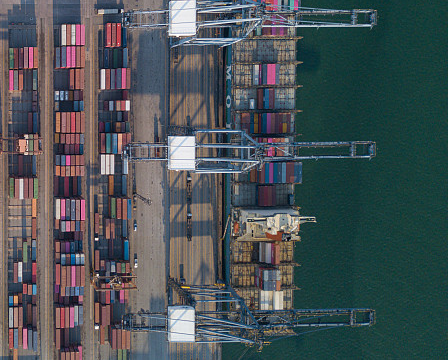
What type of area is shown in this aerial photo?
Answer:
port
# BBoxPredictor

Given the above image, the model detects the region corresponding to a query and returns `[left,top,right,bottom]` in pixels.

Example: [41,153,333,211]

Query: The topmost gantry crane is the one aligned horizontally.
[124,0,381,59]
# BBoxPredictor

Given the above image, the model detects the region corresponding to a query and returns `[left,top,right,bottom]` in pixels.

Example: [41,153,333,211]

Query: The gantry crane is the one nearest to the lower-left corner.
[92,261,142,291]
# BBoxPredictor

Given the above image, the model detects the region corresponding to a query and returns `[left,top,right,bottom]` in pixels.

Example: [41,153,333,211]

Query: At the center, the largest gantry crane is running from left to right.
[124,113,380,174]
